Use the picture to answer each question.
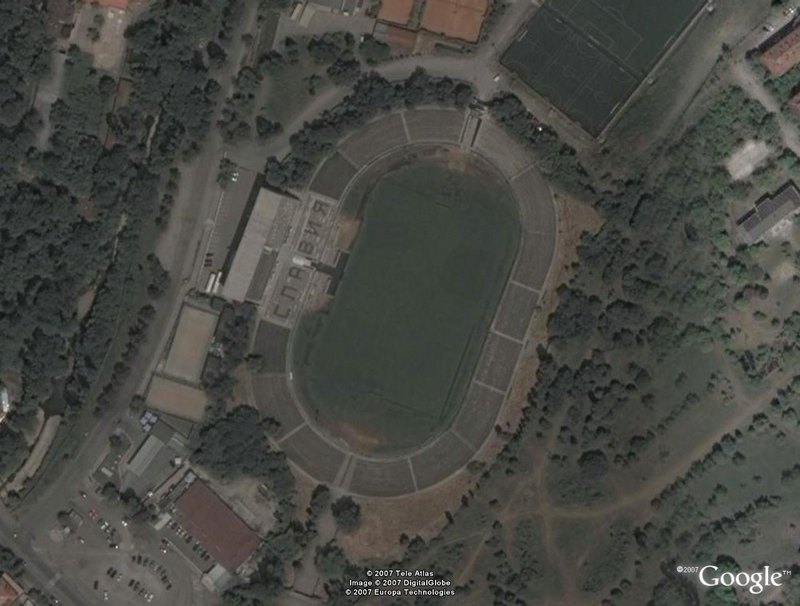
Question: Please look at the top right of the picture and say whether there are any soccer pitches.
Yes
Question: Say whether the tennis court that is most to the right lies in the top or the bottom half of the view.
top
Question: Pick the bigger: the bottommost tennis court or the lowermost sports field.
the sports field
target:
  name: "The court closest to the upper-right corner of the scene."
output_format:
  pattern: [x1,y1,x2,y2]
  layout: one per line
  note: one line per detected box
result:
[420,0,486,41]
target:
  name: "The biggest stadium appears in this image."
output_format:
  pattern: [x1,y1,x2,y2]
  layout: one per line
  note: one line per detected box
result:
[248,99,560,500]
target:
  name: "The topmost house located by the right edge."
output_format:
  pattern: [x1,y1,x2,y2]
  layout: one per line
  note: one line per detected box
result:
[763,30,800,74]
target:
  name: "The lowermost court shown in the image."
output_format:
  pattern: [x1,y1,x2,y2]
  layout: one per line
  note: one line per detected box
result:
[145,376,205,421]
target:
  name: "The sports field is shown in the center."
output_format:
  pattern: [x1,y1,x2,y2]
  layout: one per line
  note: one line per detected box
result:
[289,143,522,458]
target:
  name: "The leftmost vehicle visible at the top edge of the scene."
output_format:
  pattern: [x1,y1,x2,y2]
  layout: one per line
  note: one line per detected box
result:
[290,2,303,21]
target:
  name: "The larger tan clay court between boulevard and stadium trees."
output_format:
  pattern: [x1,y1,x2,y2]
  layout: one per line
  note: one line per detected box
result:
[165,305,216,383]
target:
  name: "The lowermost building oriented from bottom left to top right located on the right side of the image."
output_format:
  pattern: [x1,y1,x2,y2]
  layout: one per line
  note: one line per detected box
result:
[738,187,800,245]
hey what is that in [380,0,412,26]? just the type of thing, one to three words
tennis court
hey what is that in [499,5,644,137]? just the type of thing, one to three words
soccer field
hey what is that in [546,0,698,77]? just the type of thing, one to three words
soccer field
